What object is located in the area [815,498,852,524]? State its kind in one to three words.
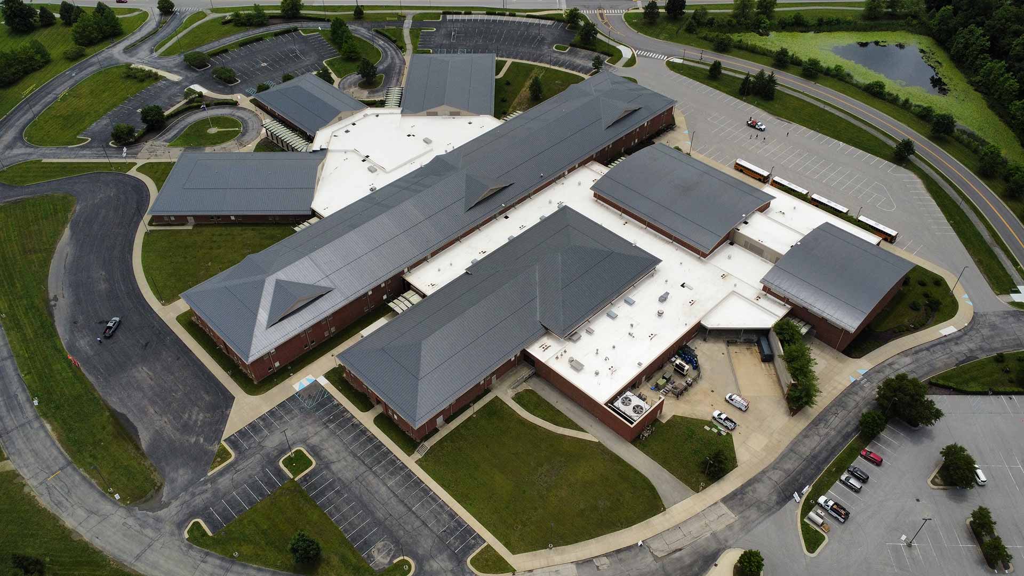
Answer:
truck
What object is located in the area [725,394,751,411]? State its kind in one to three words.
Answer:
vehicle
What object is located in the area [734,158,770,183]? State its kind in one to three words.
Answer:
bus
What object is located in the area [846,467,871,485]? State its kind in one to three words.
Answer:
car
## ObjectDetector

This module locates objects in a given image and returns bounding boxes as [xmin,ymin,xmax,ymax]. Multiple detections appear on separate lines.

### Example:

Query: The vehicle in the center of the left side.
[102,318,120,336]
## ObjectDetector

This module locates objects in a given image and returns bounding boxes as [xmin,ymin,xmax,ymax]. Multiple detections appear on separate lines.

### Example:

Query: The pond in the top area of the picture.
[834,42,942,95]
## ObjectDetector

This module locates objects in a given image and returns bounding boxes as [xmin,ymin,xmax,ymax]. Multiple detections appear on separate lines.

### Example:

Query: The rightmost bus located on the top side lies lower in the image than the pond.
[855,216,899,242]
